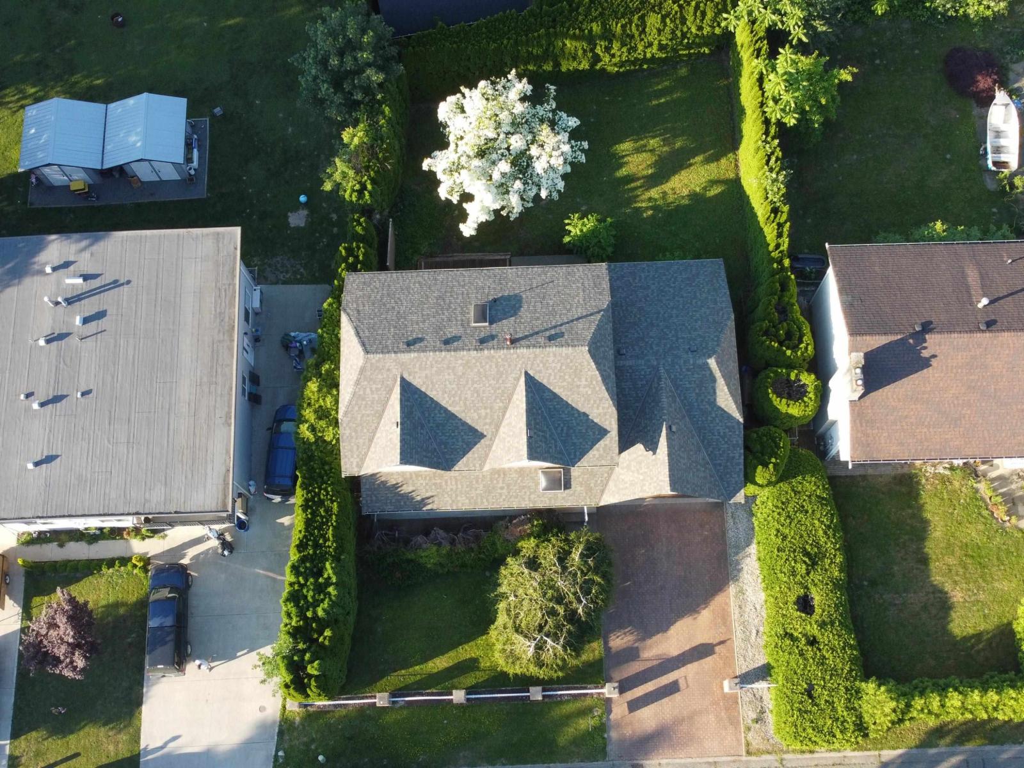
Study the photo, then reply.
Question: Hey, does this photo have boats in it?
Yes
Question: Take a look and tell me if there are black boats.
No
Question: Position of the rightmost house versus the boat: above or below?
below it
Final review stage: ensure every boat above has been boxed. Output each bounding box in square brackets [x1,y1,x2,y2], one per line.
[987,91,1020,175]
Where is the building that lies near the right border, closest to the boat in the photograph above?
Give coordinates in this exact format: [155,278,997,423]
[810,235,1024,470]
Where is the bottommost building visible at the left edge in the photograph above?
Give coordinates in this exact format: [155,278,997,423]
[0,225,257,533]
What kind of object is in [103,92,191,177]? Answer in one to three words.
shed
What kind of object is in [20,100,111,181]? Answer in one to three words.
shed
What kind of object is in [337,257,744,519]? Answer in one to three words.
house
